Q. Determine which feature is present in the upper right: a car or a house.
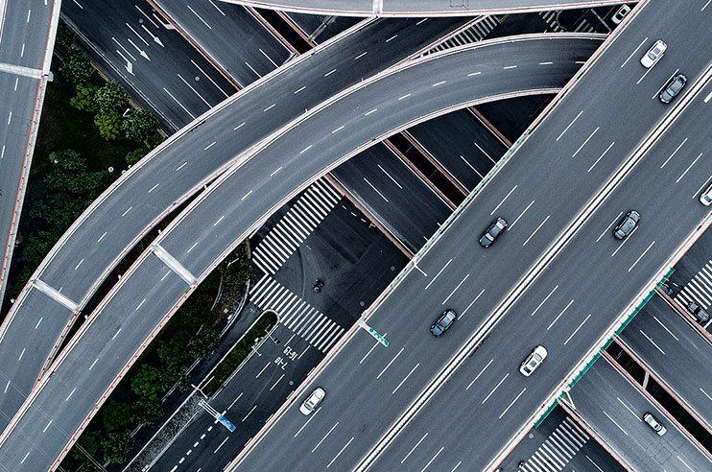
car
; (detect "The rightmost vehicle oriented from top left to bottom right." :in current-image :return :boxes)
[686,302,710,323]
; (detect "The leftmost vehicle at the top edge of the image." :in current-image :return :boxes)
[609,5,630,25]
